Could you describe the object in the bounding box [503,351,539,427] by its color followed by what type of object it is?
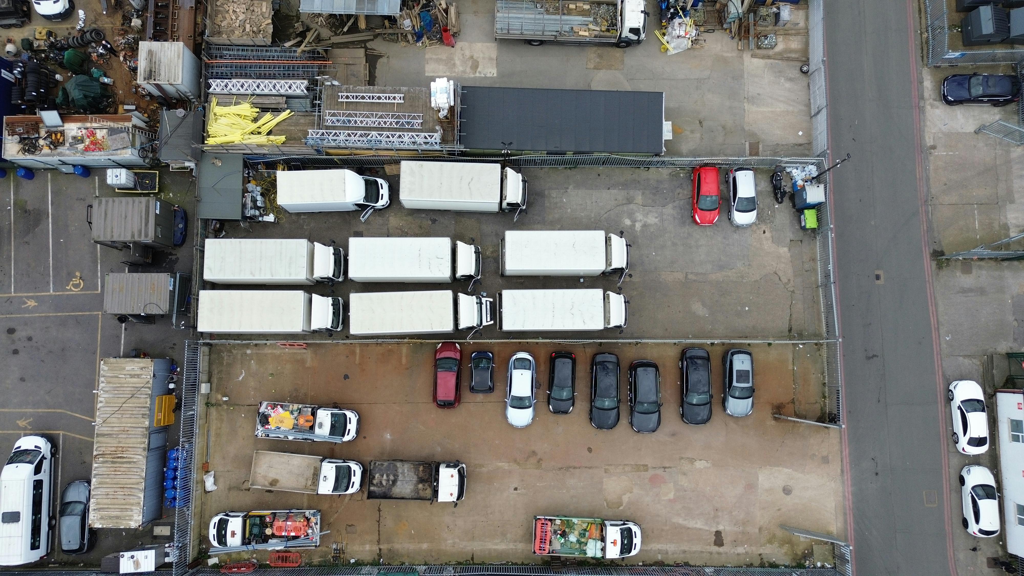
white car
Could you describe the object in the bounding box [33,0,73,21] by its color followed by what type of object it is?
white vehicle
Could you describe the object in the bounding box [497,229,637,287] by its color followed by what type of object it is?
white truck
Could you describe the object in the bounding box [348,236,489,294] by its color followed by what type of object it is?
white truck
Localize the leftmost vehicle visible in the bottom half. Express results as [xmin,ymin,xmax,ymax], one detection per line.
[0,435,59,574]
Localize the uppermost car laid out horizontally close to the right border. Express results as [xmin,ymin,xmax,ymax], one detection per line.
[938,70,1024,108]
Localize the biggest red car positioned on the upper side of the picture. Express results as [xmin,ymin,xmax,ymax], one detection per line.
[690,167,724,226]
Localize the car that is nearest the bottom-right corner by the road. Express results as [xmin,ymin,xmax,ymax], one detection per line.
[957,465,1000,536]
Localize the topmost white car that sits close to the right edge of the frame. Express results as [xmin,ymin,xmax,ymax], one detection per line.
[946,381,988,454]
